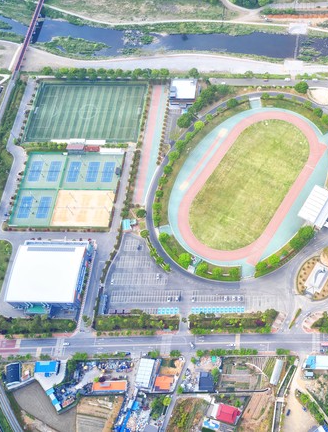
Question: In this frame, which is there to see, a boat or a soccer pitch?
soccer pitch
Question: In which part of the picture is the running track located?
right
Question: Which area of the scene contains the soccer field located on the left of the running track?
top left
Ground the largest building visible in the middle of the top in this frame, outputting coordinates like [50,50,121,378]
[168,78,198,113]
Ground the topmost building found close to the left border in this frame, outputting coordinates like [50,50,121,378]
[5,240,98,315]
